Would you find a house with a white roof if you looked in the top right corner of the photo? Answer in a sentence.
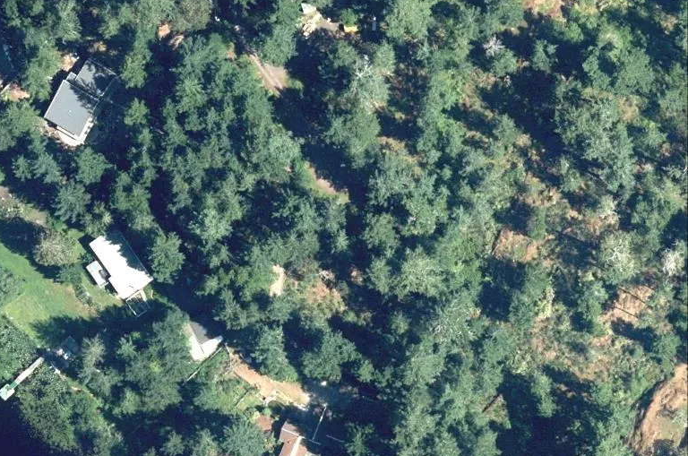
No, I can find no house with a white roof in the top right corner of the photo.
